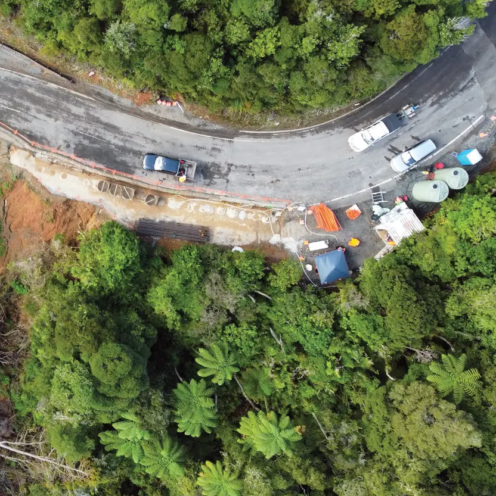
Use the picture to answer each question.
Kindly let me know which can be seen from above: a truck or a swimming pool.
truck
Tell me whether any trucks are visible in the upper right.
Yes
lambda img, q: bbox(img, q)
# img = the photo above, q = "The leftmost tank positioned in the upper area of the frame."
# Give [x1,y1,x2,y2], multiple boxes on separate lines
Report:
[411,178,447,201]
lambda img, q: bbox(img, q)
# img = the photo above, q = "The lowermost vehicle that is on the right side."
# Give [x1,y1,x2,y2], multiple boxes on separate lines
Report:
[387,136,439,175]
